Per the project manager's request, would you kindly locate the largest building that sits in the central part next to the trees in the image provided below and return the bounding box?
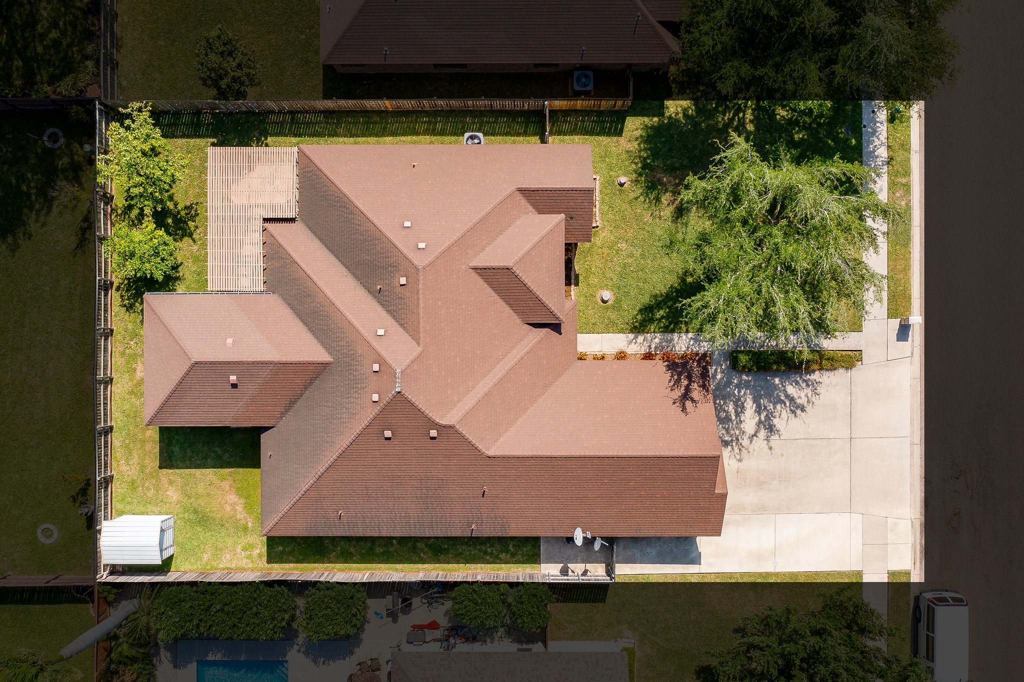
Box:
[143,142,727,539]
